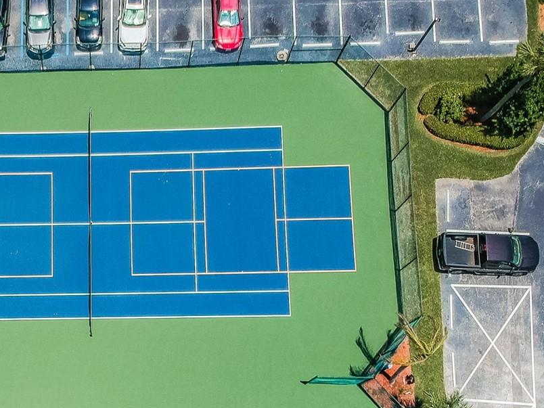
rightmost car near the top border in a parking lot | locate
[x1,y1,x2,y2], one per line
[210,0,248,53]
